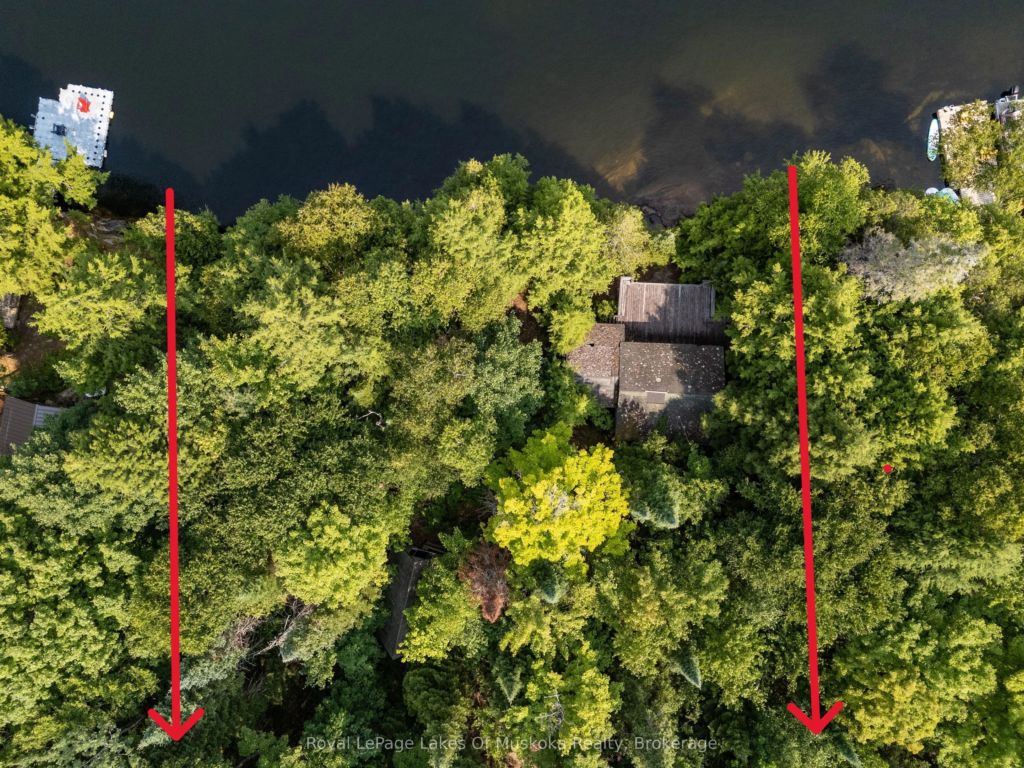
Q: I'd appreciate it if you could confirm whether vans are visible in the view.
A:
No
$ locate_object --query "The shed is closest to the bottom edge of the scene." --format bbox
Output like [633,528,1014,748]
[375,526,443,660]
